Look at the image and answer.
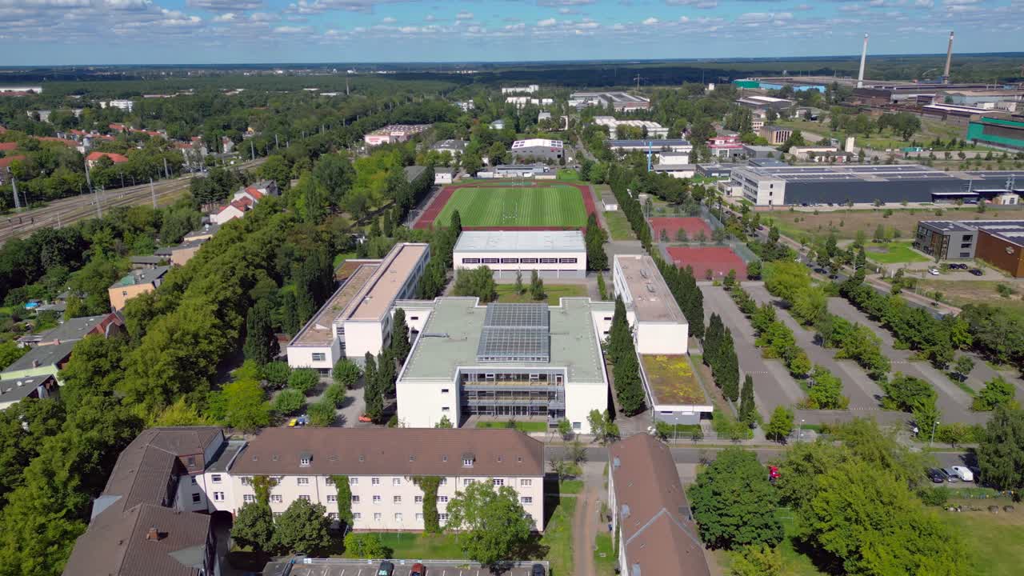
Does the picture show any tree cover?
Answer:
Yes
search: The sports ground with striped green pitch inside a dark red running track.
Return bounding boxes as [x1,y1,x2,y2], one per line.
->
[405,180,614,233]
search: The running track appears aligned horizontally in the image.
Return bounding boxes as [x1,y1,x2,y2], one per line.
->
[405,180,614,233]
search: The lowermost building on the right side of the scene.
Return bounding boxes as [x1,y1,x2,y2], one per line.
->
[606,433,714,576]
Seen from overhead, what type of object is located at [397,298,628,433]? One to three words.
building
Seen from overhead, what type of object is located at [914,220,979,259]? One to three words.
building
